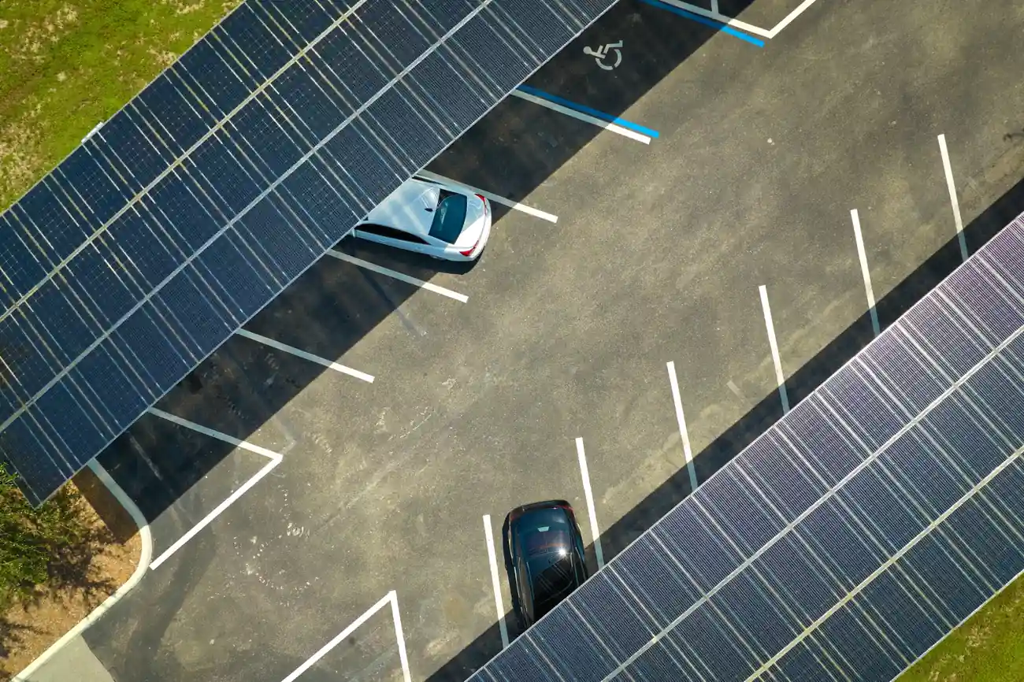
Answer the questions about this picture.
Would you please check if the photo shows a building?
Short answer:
No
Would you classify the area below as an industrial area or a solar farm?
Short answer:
solar farm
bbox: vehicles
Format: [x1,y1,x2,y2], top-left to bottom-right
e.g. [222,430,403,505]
[506,496,599,682]
[310,145,492,259]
